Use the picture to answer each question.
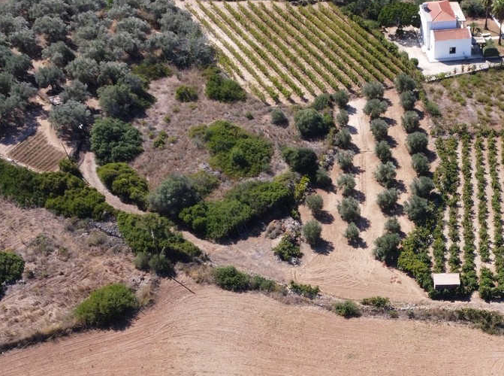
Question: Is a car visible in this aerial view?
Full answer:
No, no car is visible in the scene.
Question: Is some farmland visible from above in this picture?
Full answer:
Yes, the picture does contain farmland.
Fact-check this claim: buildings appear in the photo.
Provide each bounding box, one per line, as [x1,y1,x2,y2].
[432,268,462,290]
[411,0,475,59]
